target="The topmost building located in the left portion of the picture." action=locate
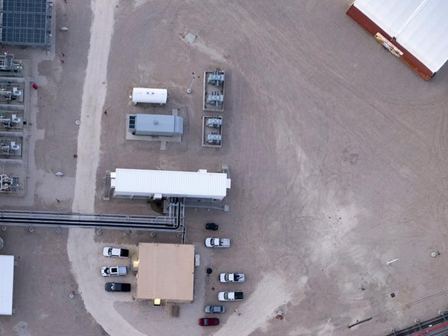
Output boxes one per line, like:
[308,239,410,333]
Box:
[104,165,230,212]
